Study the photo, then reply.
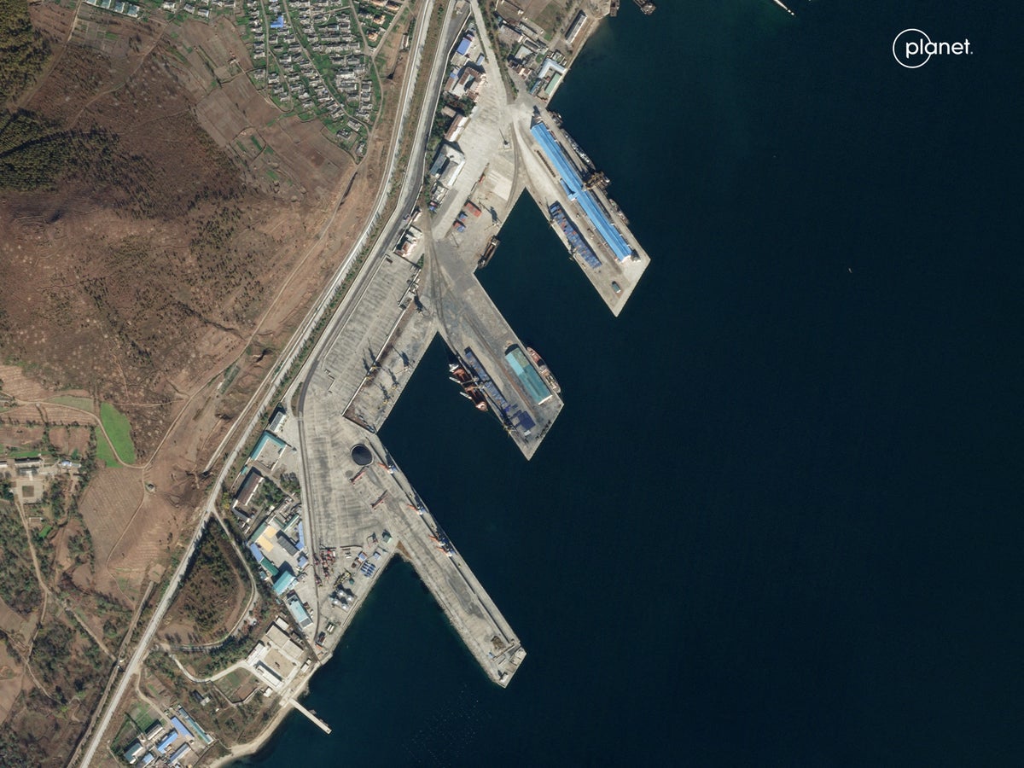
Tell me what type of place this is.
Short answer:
port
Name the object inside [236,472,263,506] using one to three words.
building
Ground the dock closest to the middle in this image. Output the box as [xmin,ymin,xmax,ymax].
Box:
[437,273,564,461]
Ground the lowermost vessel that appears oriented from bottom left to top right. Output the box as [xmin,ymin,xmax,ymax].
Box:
[479,239,498,268]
